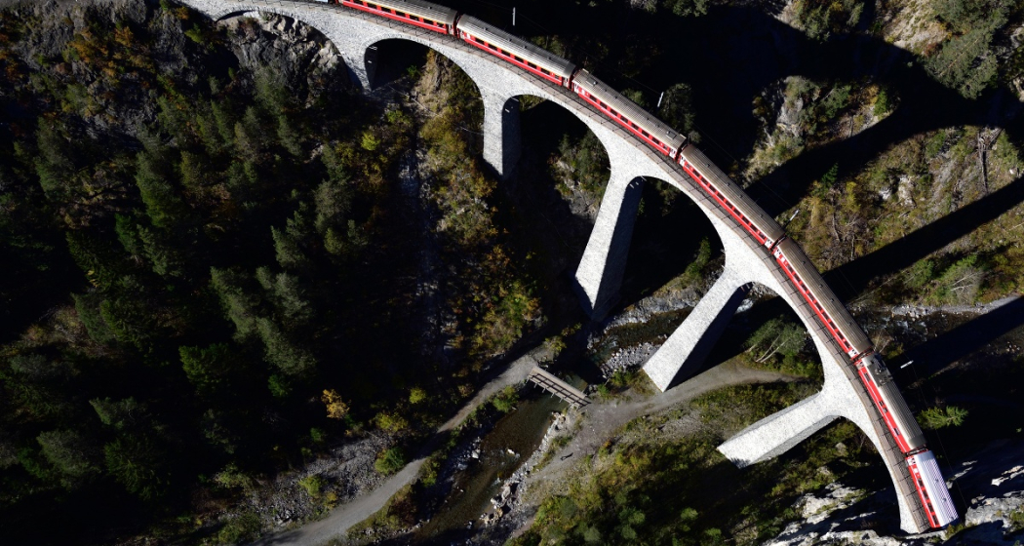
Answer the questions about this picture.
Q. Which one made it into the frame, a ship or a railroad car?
railroad car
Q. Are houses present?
No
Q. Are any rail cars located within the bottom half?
Yes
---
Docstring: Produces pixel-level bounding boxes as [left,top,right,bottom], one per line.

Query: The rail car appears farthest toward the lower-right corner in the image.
[904,452,960,532]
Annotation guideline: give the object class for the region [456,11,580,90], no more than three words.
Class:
rail car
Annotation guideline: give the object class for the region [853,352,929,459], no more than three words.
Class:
rail car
